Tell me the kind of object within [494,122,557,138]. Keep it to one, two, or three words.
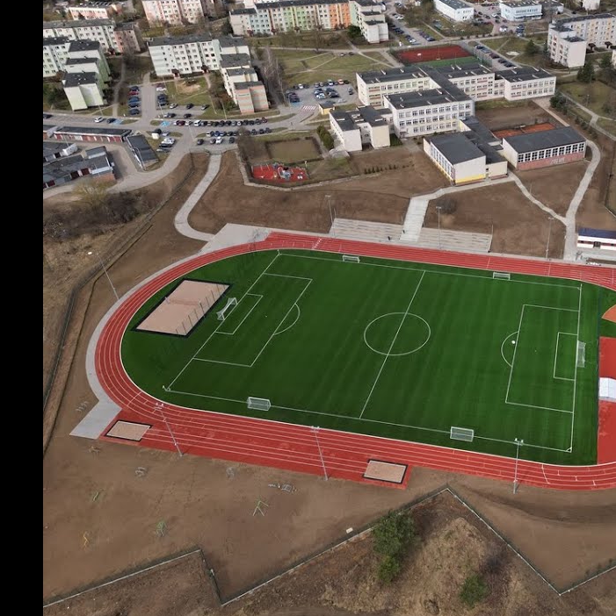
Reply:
tennis court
